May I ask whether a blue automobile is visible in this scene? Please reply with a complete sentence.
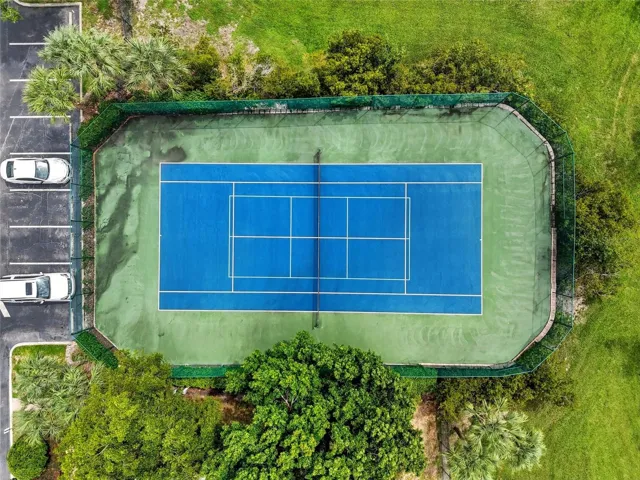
No, I find no blue automobile anywhere in the image.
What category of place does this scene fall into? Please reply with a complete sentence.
The picture captures a sports ground.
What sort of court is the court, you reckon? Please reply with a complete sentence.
What you see as the court is a tennis court.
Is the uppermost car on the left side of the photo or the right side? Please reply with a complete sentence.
You can find the uppermost car on the left side of the picture.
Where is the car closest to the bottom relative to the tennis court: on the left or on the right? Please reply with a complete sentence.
You can see the car closest to the bottom positioned to the left of the tennis court.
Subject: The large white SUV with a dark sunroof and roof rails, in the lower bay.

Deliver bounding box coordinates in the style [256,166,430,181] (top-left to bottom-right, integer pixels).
[0,272,79,305]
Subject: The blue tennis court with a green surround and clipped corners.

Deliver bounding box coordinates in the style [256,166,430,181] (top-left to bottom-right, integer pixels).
[94,107,553,365]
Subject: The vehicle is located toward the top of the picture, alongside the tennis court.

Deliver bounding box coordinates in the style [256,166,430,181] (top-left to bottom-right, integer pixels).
[1,156,73,185]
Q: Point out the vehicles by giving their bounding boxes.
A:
[0,272,79,305]
[1,156,73,185]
